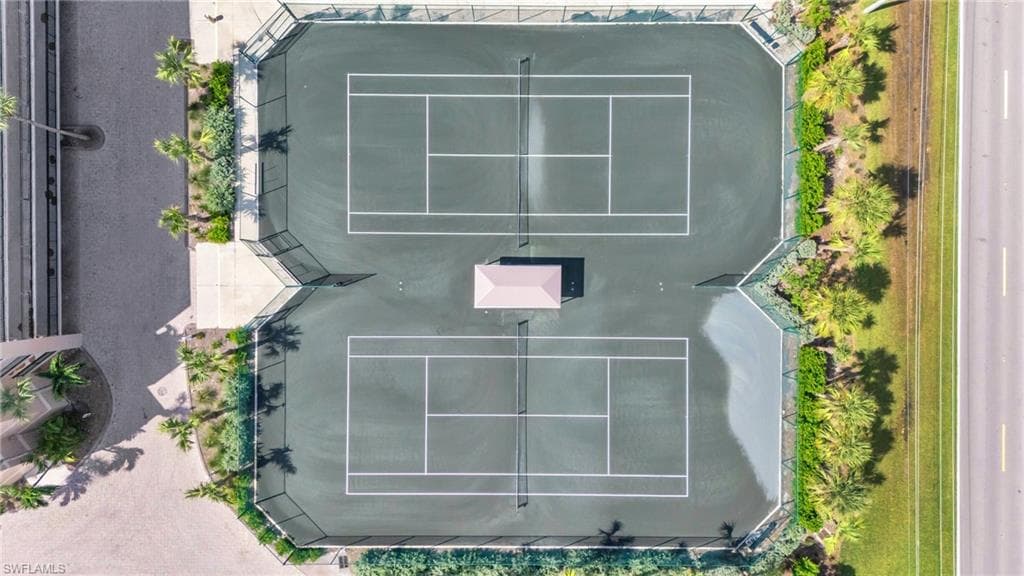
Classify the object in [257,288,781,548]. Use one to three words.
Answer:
tennis court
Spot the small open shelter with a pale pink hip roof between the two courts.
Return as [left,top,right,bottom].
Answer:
[474,264,562,309]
